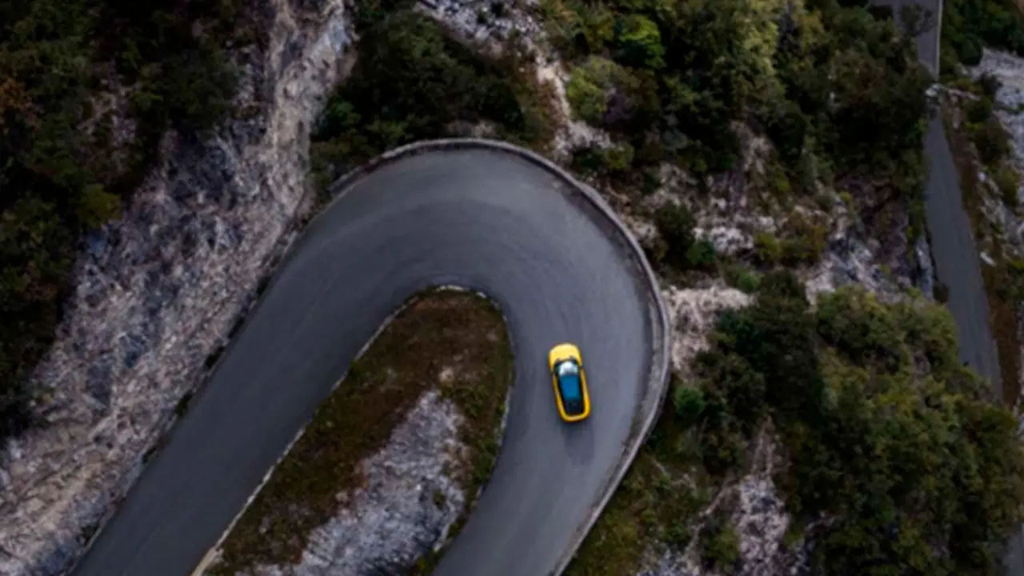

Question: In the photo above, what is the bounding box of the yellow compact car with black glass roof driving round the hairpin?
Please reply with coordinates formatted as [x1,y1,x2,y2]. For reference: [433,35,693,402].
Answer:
[548,341,590,423]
